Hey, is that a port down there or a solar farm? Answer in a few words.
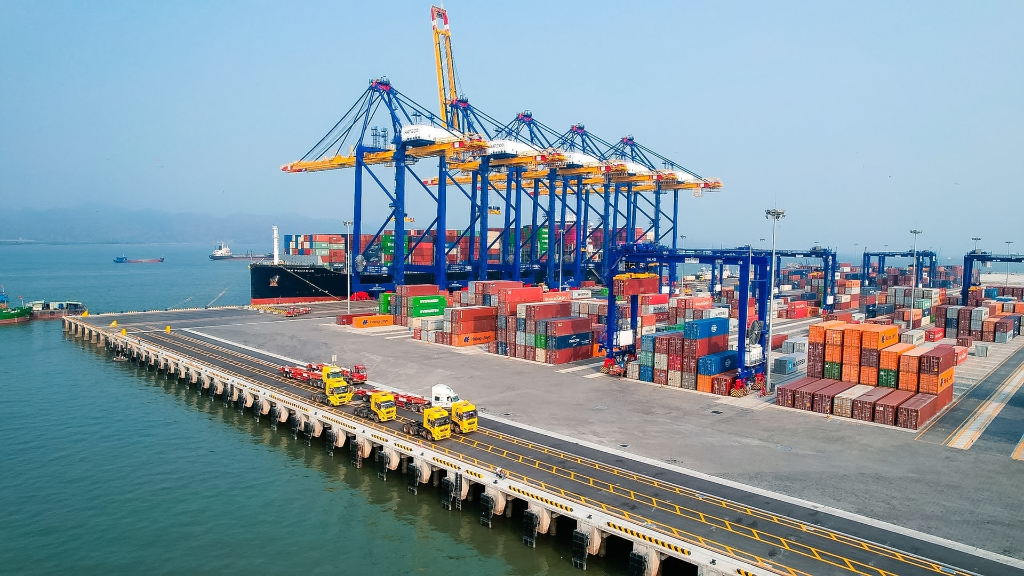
port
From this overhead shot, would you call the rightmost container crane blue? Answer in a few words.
Yes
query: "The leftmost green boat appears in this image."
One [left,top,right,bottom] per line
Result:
[0,287,32,321]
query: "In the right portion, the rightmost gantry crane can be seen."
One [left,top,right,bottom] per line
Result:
[961,249,1024,304]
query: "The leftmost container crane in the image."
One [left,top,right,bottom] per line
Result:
[278,71,496,303]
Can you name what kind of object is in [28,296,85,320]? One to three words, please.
ship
